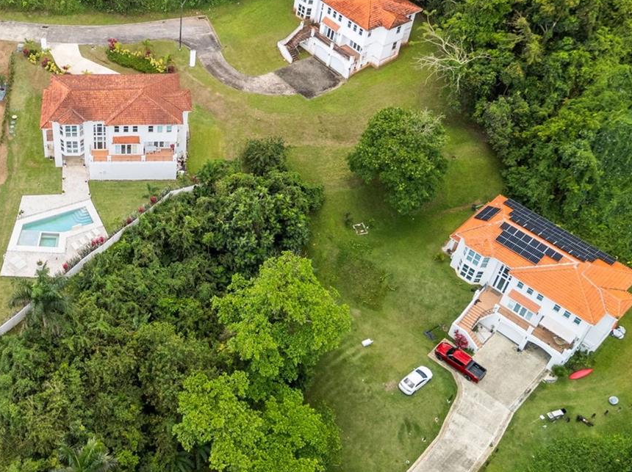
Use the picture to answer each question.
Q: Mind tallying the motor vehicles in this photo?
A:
two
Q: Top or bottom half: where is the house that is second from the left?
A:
top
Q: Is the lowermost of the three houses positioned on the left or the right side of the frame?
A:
right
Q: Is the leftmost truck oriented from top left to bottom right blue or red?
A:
red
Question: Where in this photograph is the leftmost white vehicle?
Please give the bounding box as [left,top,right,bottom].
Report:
[399,364,433,395]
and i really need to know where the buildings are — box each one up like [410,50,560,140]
[441,194,632,372]
[43,73,193,181]
[287,0,422,76]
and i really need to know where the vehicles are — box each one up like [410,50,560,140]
[436,340,488,382]
[399,364,433,395]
